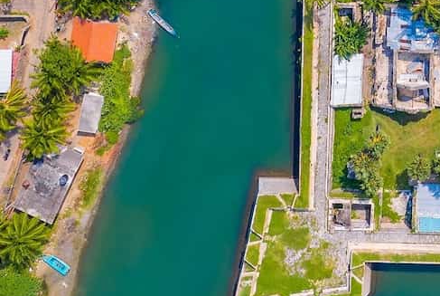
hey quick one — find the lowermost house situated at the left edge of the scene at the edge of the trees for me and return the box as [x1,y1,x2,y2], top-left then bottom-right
[14,149,86,224]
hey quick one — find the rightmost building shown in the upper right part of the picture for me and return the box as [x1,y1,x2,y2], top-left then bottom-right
[372,7,440,116]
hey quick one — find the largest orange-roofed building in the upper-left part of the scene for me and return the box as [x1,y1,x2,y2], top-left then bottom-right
[72,17,120,63]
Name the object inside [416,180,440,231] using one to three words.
house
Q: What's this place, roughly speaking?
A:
residential area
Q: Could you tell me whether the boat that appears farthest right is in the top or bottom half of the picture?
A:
top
